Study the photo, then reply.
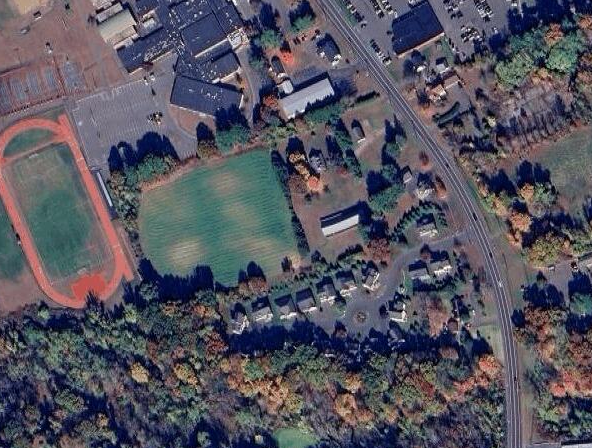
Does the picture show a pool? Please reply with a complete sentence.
No, no pool is visible in the view.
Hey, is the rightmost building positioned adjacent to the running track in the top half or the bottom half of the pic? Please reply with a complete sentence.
The top half of the photo is where the rightmost building positioned adjacent to the running track is.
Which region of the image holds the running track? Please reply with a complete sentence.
The running track is located in the left region of the scene.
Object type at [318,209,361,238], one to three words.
barn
